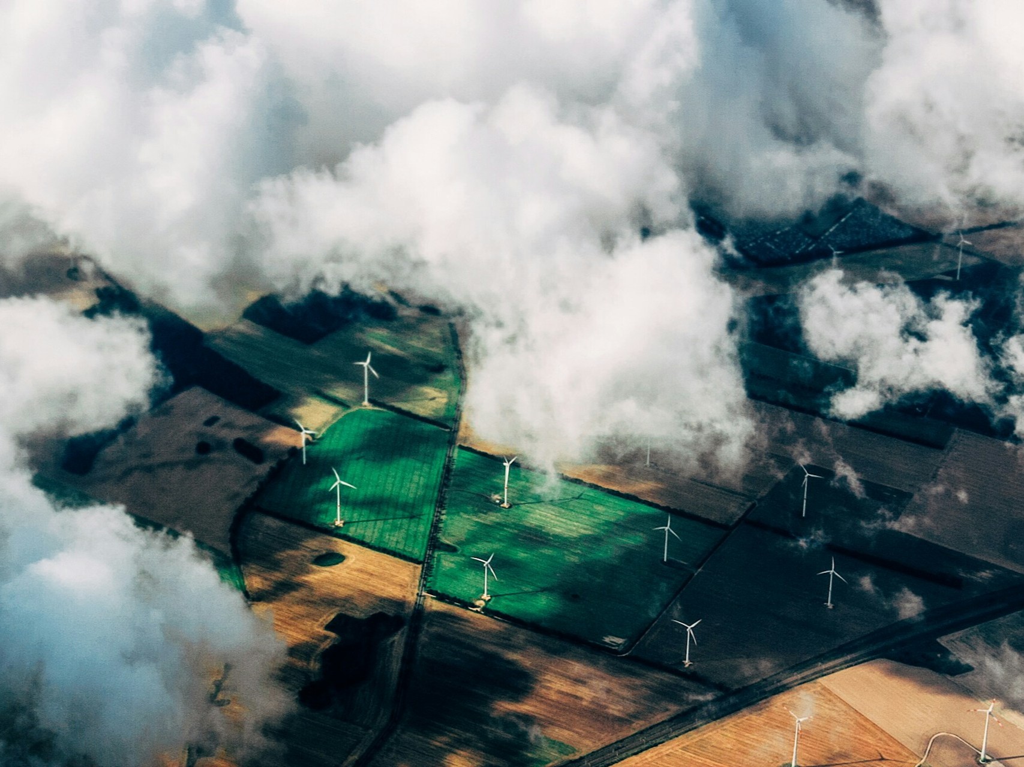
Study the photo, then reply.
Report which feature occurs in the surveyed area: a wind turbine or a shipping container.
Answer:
wind turbine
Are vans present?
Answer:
No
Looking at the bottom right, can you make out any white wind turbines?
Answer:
Yes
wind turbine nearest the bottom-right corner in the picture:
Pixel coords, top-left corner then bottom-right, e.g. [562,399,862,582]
[964,698,1000,758]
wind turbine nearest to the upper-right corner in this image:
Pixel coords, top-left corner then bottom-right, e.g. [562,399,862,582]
[951,229,971,277]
